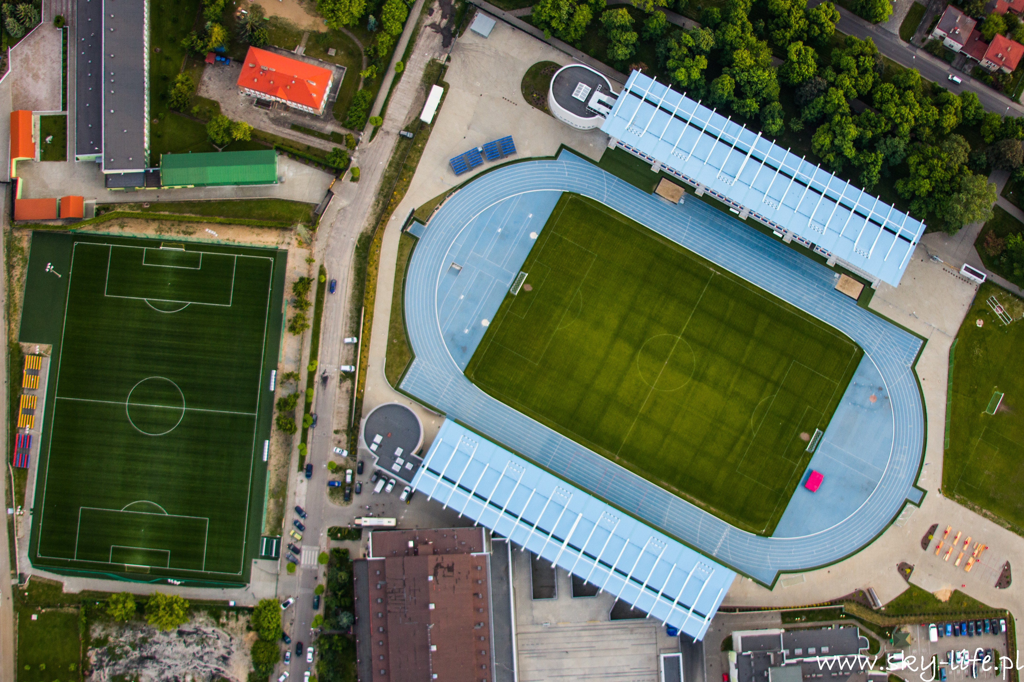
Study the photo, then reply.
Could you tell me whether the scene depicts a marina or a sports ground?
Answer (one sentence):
This looks like a sports ground.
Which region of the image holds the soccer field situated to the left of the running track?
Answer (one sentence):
You can find the soccer field situated to the left of the running track in the left area of the picture.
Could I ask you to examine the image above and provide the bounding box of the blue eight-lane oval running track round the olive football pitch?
[393,143,931,593]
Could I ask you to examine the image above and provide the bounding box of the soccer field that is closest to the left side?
[18,231,288,587]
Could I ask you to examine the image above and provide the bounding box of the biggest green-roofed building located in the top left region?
[162,150,278,187]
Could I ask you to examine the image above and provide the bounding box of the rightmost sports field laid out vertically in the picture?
[943,284,1024,537]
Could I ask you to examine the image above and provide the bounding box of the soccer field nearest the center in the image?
[464,191,866,538]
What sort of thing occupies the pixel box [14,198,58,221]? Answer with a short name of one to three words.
shed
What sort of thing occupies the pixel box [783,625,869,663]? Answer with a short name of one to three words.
building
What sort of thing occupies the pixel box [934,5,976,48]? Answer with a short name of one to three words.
house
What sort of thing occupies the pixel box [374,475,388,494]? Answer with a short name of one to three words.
vehicle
